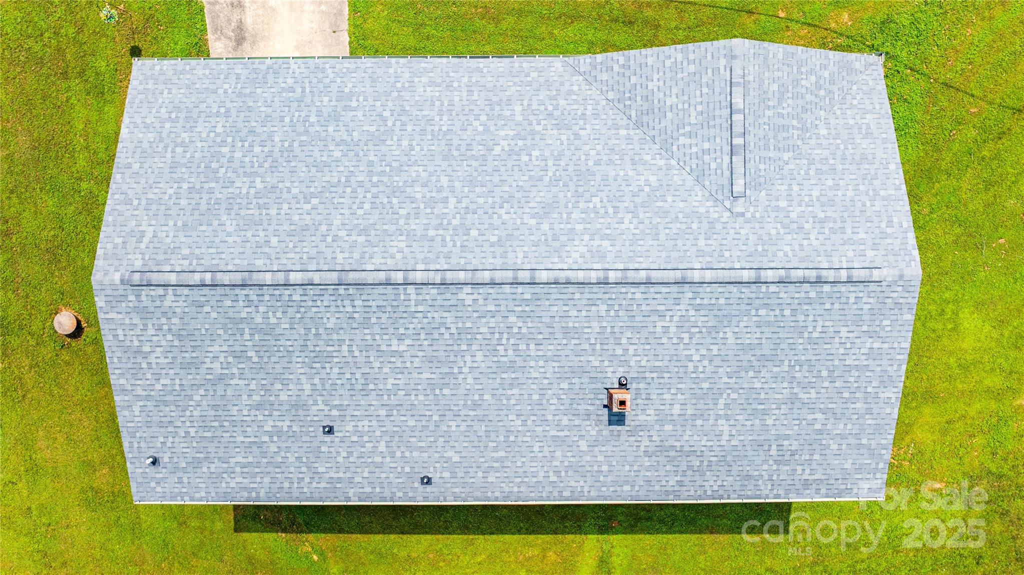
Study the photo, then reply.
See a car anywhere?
No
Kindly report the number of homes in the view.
1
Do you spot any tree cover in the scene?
No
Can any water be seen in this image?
No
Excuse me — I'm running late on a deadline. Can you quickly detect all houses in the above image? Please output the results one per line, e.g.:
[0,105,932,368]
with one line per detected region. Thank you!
[92,37,923,505]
